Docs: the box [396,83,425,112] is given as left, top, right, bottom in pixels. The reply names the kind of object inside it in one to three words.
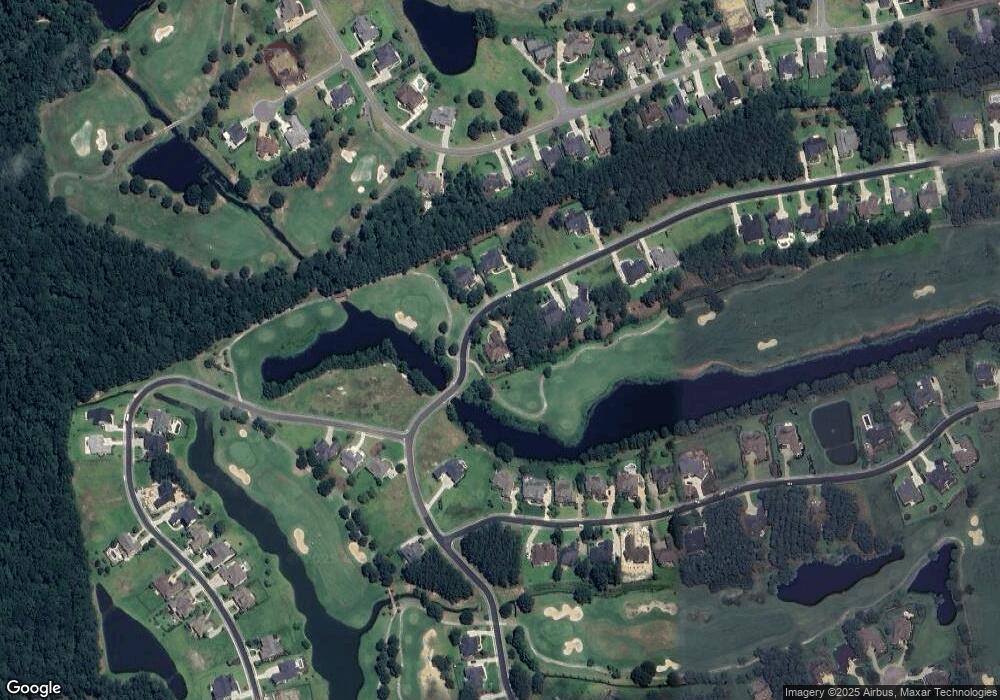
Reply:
house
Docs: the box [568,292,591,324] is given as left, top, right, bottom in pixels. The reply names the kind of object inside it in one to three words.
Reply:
house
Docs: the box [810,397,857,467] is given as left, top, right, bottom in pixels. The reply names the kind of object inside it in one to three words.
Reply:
pond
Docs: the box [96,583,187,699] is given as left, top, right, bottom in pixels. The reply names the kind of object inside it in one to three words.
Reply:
pond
